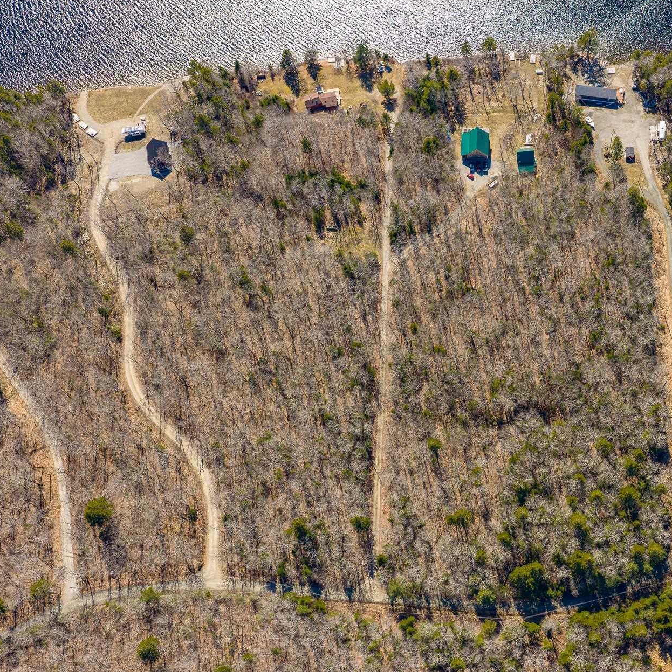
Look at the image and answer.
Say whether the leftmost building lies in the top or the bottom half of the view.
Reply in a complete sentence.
The leftmost building is in the top half of the image.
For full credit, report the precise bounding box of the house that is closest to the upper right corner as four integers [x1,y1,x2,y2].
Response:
[575,85,625,106]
